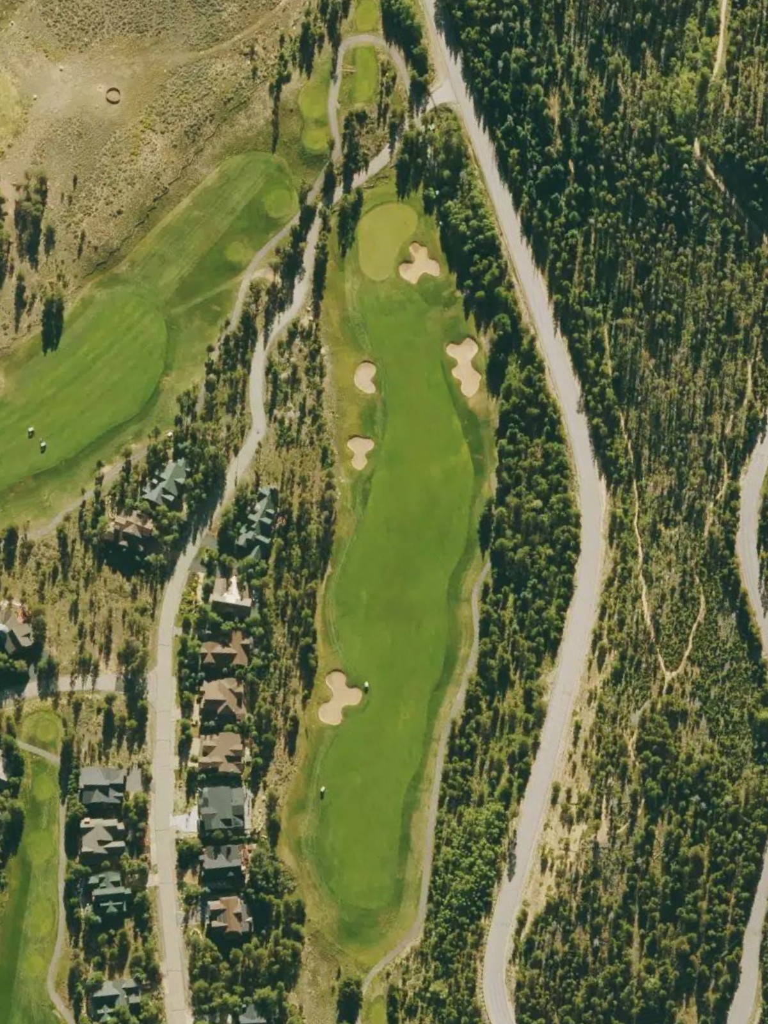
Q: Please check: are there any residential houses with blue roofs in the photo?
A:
No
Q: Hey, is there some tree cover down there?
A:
Yes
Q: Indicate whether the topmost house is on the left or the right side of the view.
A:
left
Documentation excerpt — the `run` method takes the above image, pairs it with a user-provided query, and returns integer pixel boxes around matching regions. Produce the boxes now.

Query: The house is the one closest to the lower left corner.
[92,976,151,1023]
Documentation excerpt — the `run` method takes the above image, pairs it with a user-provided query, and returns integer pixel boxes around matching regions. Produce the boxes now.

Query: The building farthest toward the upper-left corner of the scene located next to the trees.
[141,455,189,507]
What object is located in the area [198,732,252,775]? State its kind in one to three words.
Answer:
house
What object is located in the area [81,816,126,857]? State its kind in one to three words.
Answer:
house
